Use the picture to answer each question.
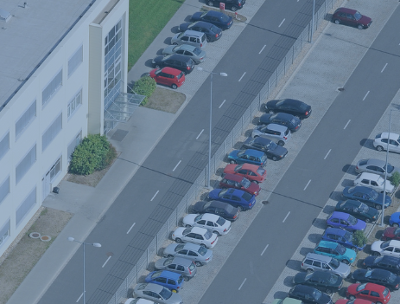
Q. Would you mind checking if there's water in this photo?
No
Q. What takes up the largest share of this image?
paved ground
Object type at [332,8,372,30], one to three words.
car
